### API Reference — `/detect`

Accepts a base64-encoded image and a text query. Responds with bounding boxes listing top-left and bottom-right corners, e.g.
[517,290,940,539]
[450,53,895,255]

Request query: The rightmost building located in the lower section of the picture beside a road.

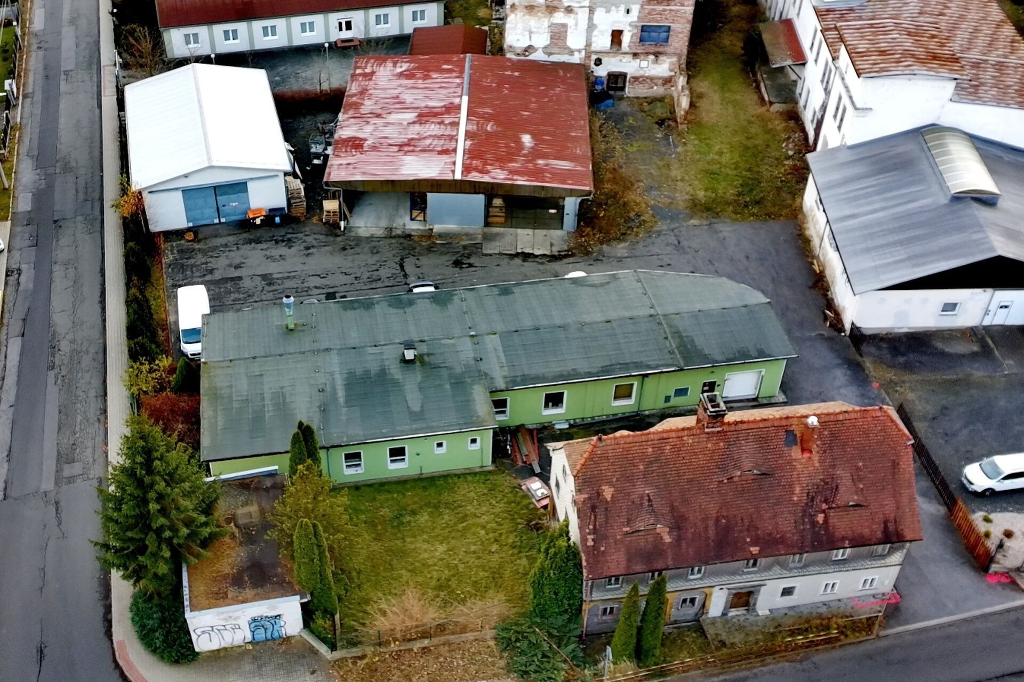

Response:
[545,396,926,634]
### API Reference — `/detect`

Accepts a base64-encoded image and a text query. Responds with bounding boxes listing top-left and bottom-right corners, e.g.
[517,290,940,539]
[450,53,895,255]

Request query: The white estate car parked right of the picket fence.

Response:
[963,450,1024,496]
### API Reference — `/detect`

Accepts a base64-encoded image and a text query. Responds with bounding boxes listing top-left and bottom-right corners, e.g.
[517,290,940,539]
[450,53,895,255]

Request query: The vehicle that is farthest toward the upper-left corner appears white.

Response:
[173,289,214,364]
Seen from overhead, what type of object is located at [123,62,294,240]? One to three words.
barn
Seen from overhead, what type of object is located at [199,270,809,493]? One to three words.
building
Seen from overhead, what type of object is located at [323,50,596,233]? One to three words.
shed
